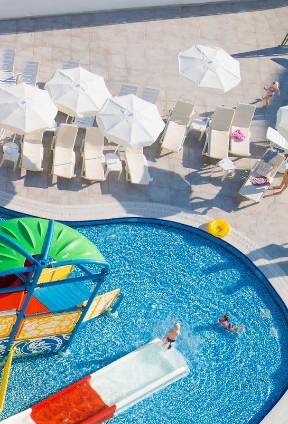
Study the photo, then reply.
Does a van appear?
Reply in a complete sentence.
No, I find no van anywhere in the image.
